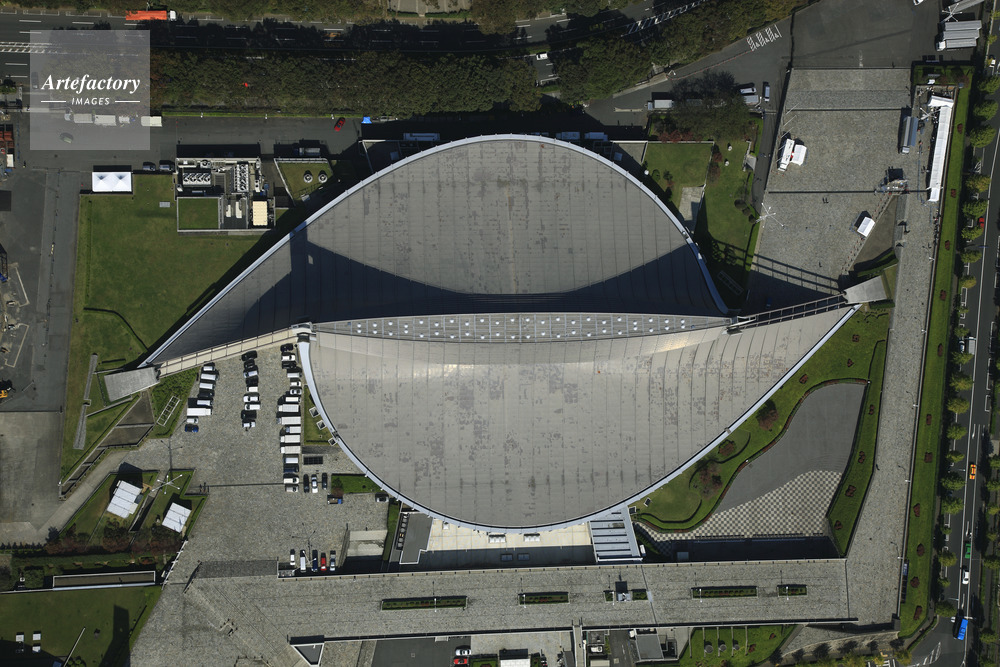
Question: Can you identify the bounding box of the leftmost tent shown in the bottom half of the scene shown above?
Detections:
[107,480,141,518]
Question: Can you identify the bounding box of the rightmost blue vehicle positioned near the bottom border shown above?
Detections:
[955,616,969,640]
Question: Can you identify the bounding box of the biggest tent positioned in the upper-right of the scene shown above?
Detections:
[926,105,953,202]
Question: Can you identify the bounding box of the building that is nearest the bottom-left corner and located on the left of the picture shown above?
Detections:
[53,570,156,592]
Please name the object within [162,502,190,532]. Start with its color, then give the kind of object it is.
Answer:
white tent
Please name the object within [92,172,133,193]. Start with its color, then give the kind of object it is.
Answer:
white tent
